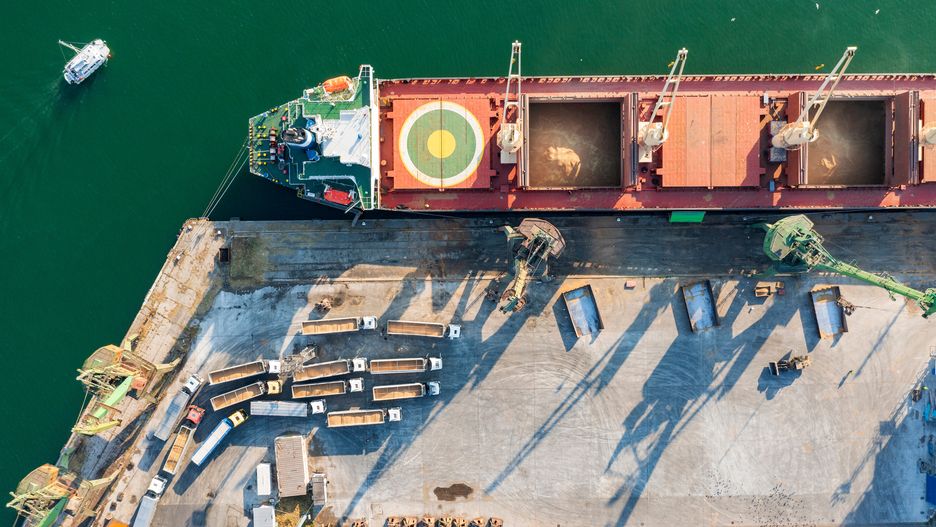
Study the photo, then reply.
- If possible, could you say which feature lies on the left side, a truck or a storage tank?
truck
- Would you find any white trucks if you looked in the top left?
No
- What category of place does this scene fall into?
port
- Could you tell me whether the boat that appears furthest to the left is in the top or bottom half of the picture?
top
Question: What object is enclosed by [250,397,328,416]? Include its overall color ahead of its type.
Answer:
white vehicle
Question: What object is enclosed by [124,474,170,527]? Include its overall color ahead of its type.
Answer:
white truck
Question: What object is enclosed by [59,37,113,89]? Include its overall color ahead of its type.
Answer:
white boat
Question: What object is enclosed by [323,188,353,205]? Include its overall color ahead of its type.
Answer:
red boat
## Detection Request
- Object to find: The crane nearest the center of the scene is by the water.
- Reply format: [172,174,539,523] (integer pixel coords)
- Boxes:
[498,217,569,317]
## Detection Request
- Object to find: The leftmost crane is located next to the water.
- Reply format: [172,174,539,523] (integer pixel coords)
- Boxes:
[3,448,122,527]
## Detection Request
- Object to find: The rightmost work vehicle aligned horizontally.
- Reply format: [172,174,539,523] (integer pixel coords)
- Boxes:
[771,353,814,376]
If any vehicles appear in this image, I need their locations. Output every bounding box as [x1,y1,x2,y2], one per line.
[190,407,250,466]
[162,404,208,475]
[387,319,461,339]
[292,375,365,399]
[124,474,170,527]
[301,314,378,333]
[327,404,403,426]
[250,397,328,416]
[370,354,442,374]
[207,357,285,385]
[152,374,207,441]
[771,353,814,376]
[292,355,368,382]
[209,377,284,411]
[372,379,441,401]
